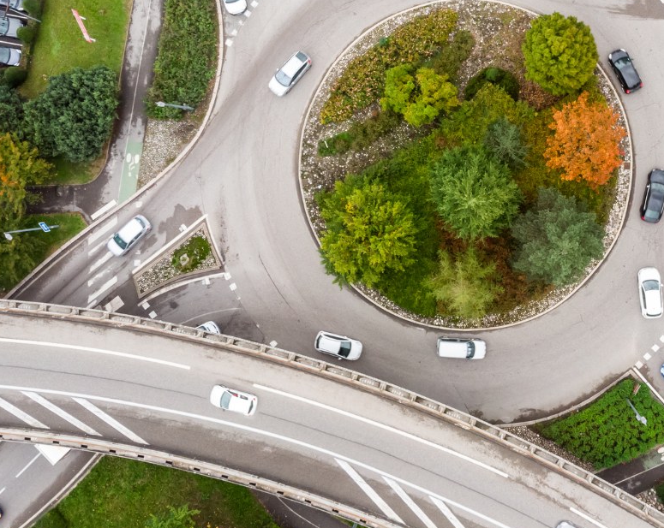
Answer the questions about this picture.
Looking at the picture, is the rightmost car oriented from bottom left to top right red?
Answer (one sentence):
No, the rightmost car oriented from bottom left to top right is actually white.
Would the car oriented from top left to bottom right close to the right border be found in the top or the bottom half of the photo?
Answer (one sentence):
The car oriented from top left to bottom right close to the right border is in the top half of the image.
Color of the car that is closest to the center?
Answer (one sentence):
The car that is closest to the center is white.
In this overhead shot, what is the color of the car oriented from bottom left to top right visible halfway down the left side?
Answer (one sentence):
From above, the car oriented from bottom left to top right visible halfway down the left side appears white.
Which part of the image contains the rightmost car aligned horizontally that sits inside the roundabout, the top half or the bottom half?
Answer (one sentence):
Seen from above, the rightmost car aligned horizontally that sits inside the roundabout lies in the bottom half of the view.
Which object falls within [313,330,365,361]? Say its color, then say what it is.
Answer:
white car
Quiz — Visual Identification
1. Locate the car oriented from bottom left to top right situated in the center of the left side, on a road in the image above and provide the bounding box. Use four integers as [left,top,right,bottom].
[107,212,157,259]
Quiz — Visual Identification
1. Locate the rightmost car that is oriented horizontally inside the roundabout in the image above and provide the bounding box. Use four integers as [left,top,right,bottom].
[437,336,486,362]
